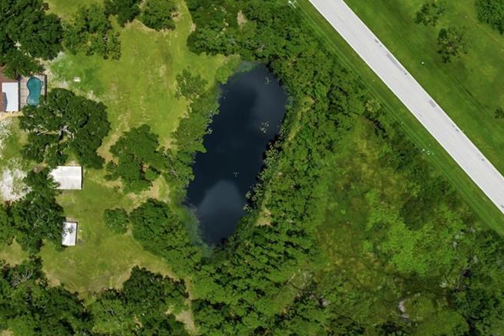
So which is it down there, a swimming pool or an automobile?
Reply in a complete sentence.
Visible in the photo is a swimming pool.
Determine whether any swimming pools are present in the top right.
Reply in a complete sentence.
No, no swimming pool appears in the top right.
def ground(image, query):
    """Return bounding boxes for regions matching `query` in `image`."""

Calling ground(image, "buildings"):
[0,61,19,114]
[62,222,76,245]
[47,166,82,189]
